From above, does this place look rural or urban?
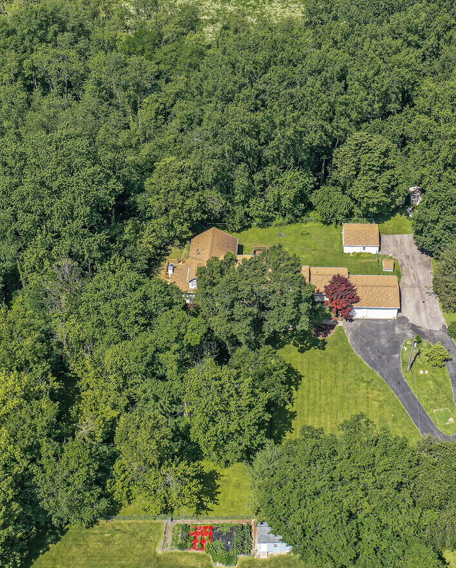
rural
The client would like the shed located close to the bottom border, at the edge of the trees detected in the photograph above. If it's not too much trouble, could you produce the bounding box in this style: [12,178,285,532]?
[257,523,293,559]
